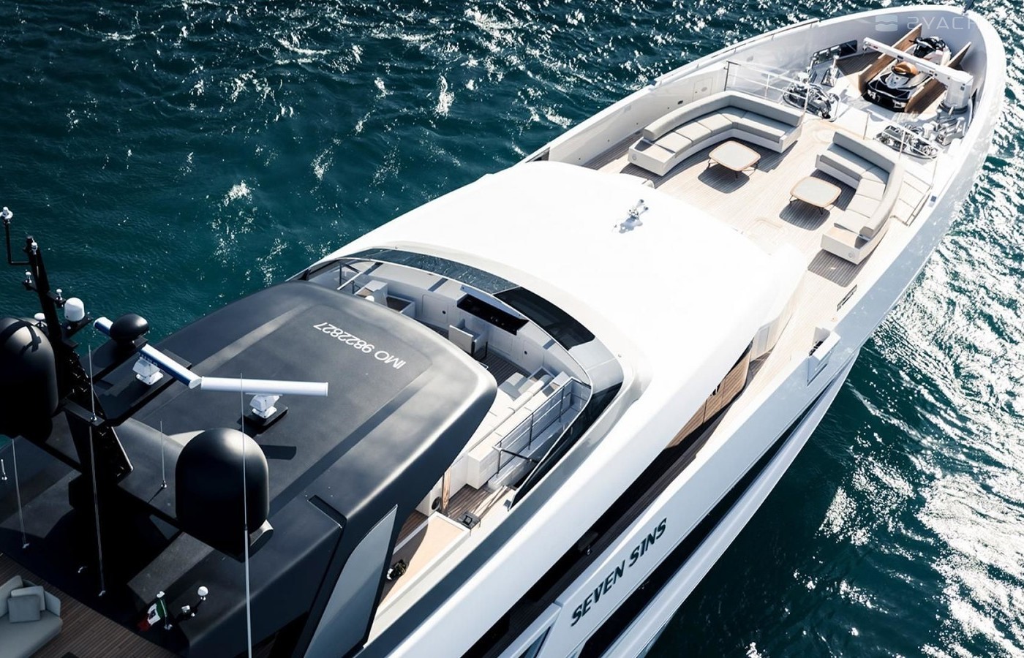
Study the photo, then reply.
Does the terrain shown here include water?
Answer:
Yes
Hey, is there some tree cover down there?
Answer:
No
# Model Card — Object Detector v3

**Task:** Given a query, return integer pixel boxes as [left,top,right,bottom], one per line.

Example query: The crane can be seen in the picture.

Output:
[863,37,977,126]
